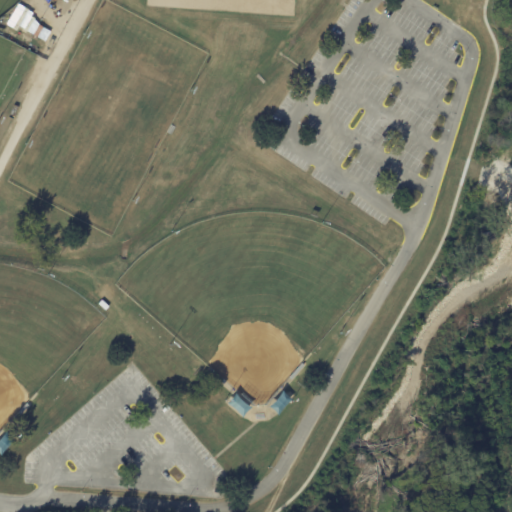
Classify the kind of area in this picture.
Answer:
sports ground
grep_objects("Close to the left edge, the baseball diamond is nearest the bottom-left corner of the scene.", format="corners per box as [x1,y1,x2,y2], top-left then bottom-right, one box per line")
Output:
[0,264,106,428]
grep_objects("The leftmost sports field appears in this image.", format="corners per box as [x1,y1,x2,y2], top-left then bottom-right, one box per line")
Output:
[0,35,43,120]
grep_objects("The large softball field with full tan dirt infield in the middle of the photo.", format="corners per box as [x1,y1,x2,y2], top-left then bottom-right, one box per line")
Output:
[117,212,386,406]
